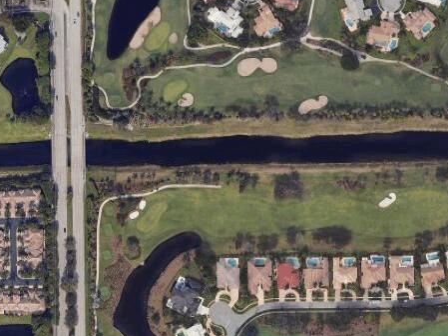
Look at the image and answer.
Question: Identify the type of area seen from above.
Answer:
golf course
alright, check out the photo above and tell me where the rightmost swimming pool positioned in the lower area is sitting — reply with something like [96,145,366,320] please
[426,251,442,264]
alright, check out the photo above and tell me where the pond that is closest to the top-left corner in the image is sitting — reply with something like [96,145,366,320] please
[0,58,38,116]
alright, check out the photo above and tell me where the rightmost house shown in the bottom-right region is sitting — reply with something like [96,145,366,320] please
[420,266,448,292]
